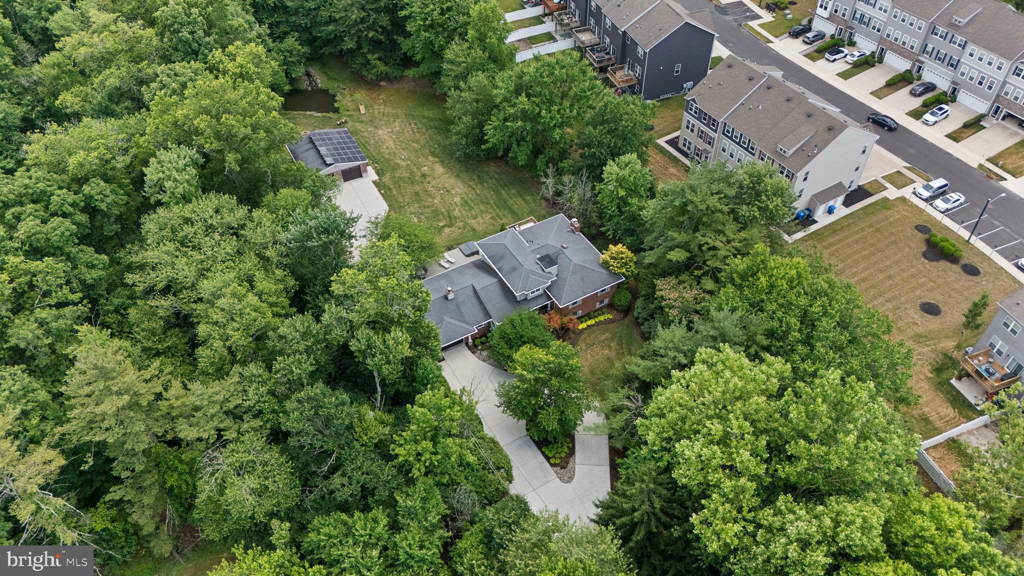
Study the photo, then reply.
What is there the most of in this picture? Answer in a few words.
trees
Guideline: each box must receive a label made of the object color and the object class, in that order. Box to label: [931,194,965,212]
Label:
white car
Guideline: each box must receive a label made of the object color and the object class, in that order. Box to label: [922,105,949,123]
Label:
white car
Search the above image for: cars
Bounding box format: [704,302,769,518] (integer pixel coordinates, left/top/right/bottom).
[1012,252,1024,269]
[802,30,825,44]
[931,194,965,212]
[824,49,848,62]
[788,25,811,38]
[922,105,949,123]
[867,114,898,132]
[914,176,950,199]
[909,83,935,97]
[844,51,869,64]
